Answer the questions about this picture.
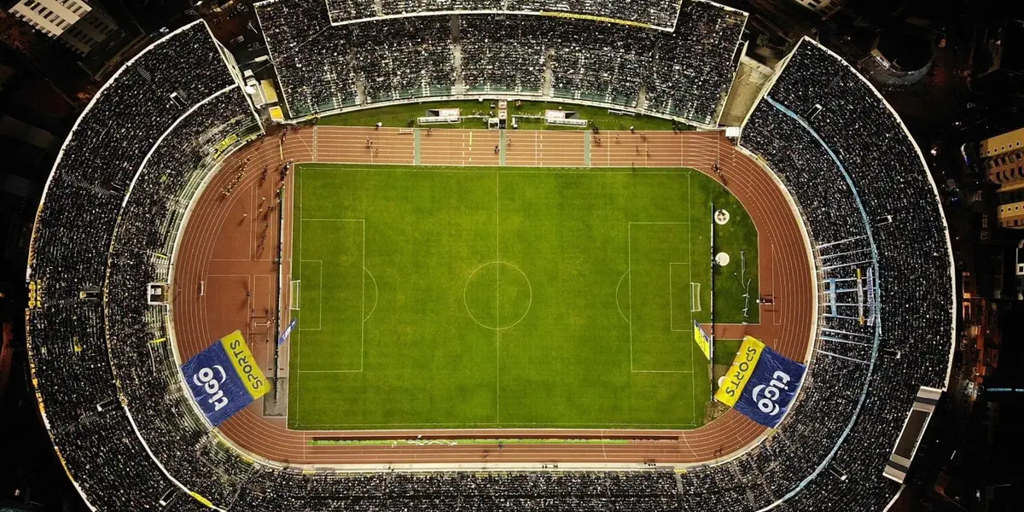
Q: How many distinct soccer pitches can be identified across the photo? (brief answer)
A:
one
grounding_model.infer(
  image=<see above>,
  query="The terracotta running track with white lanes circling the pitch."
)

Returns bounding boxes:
[173,126,813,463]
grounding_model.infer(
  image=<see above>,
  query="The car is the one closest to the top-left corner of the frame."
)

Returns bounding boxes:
[154,23,172,35]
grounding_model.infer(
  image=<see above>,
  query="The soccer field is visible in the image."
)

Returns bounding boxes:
[286,100,761,432]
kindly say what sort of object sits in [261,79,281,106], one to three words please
shed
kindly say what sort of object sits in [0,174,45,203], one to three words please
building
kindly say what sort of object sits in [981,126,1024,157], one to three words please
building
